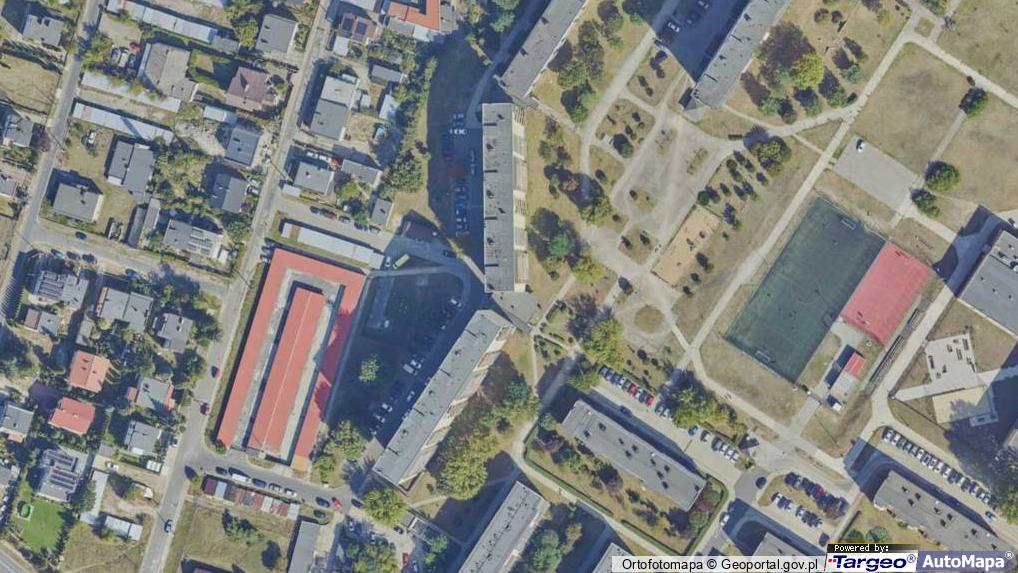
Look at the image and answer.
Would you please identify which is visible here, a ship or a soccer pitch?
soccer pitch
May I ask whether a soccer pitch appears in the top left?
No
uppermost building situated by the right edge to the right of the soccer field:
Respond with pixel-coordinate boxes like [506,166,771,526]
[957,231,1018,336]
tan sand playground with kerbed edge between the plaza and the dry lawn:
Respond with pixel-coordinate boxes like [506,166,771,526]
[651,205,721,287]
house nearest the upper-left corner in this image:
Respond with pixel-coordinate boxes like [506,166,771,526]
[22,15,68,46]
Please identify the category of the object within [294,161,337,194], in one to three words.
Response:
house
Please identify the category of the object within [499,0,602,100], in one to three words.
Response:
building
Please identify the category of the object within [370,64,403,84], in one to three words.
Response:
shed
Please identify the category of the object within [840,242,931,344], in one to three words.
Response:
sports court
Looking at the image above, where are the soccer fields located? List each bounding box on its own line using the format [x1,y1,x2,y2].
[725,195,890,385]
